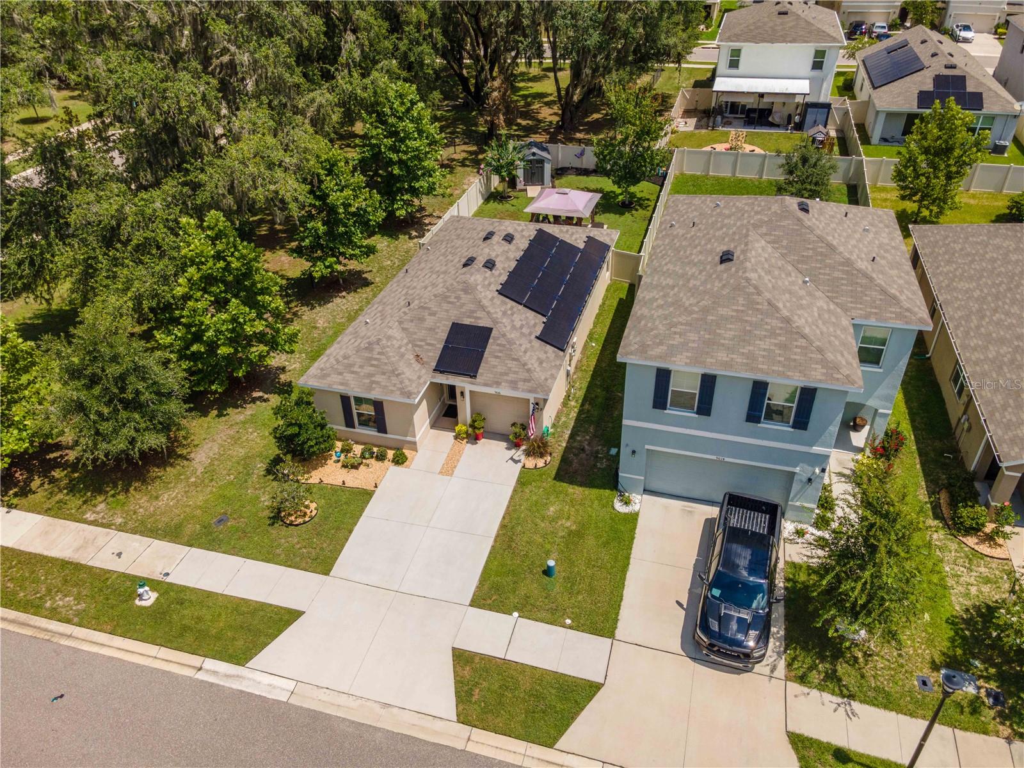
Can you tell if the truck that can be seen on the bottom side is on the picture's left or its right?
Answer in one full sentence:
It is on the right.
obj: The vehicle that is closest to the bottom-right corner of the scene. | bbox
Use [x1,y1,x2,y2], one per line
[695,493,787,672]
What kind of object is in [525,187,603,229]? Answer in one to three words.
gazebo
